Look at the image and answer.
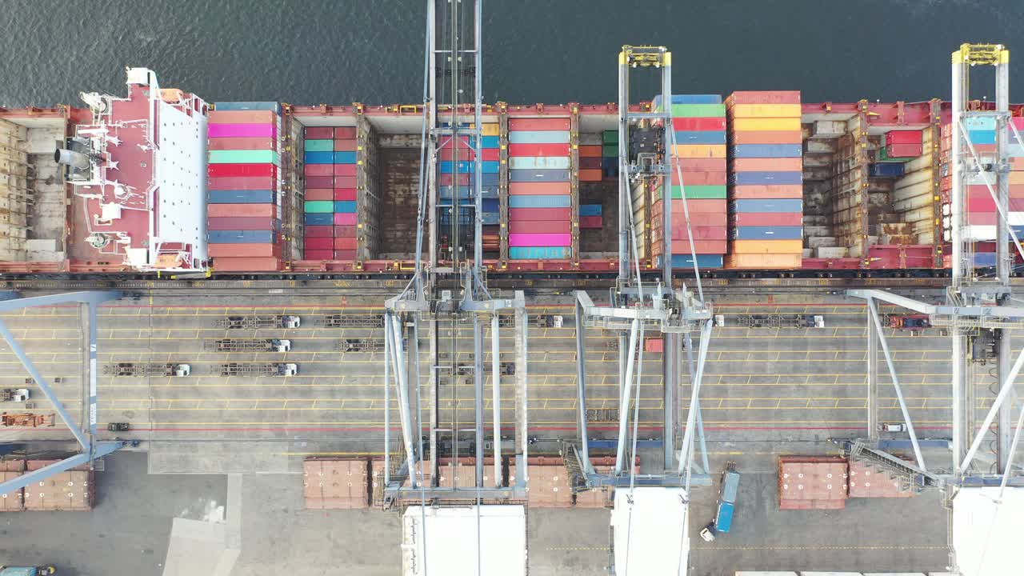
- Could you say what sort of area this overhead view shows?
port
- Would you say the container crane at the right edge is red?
No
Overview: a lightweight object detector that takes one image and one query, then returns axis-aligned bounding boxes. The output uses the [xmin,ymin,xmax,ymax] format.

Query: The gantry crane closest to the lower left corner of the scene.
[0,291,144,494]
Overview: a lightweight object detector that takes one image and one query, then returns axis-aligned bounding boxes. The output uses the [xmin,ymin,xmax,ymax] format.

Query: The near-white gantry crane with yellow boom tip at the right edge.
[825,39,1024,576]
